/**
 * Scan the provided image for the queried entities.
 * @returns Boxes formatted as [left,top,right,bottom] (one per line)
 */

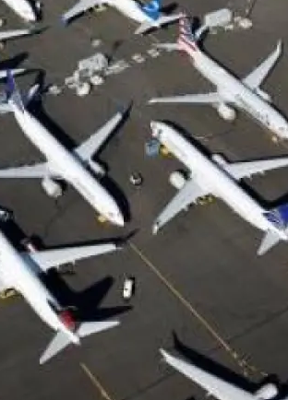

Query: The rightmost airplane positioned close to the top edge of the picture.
[154,15,288,139]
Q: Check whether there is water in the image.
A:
No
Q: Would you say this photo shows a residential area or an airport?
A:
airport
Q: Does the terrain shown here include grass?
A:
No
